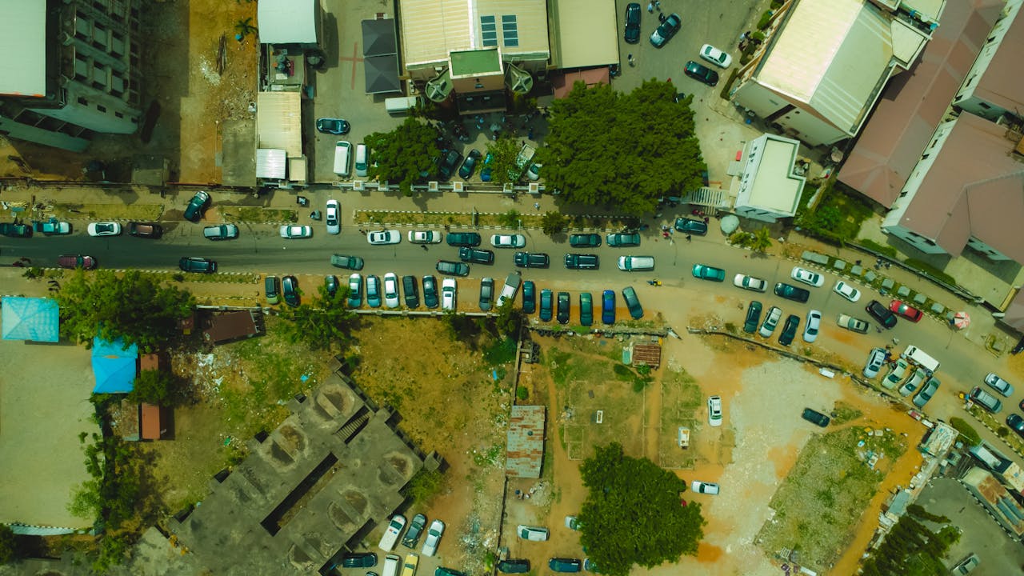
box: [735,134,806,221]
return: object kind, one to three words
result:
house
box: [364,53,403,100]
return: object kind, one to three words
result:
tent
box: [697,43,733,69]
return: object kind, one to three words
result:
car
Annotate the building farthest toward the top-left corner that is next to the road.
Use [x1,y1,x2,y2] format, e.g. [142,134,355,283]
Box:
[0,0,142,150]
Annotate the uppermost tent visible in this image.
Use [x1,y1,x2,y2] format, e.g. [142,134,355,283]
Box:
[362,18,401,60]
